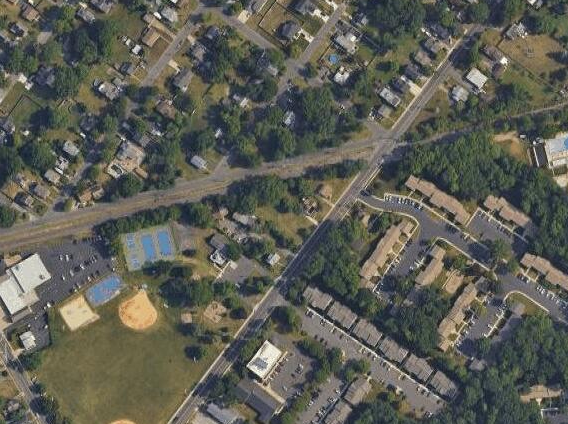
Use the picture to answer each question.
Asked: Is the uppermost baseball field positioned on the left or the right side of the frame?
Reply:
left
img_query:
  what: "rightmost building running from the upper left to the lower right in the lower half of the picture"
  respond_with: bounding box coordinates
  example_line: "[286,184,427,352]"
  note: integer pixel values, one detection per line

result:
[523,253,568,292]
